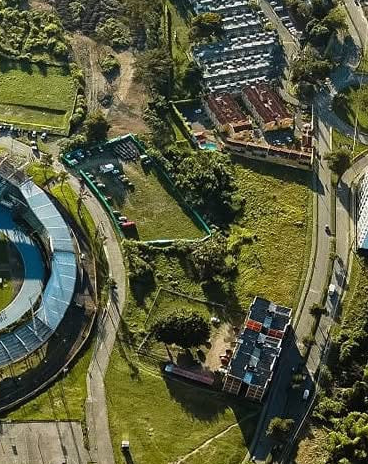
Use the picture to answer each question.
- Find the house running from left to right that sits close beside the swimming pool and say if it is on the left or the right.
right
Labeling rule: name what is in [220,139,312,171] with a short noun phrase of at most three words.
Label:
house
